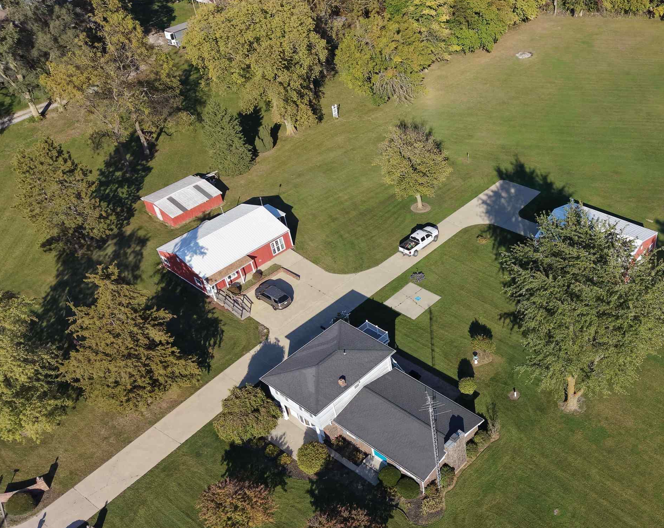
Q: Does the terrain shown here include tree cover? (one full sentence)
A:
Yes, there's tree cover in this view.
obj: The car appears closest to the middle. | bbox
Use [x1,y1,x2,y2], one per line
[253,284,291,310]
